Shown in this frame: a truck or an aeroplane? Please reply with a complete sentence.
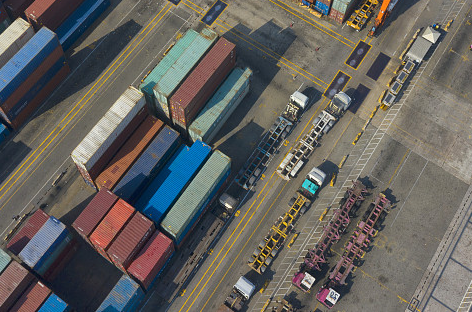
There is a truck in the scene.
